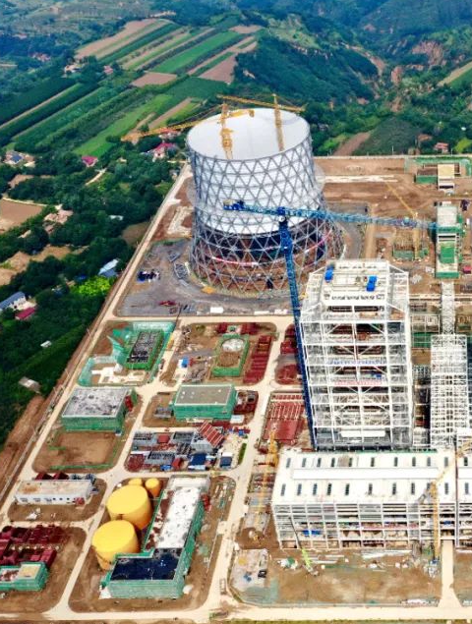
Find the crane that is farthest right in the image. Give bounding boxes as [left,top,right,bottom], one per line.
[417,433,472,568]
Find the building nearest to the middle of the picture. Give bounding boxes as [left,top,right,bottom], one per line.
[212,336,252,376]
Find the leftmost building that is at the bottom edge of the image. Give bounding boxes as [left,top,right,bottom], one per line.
[0,567,25,595]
